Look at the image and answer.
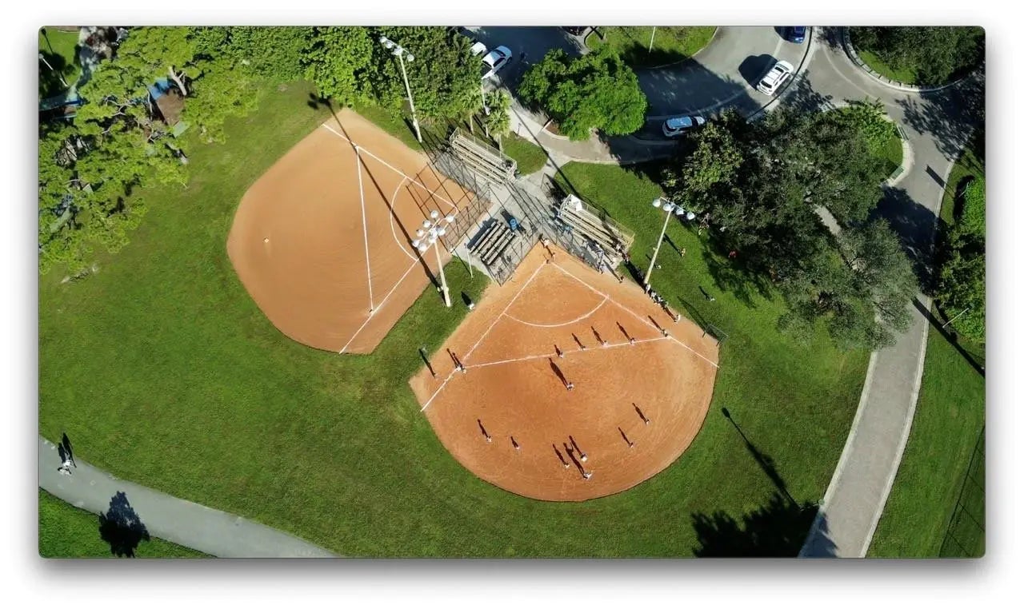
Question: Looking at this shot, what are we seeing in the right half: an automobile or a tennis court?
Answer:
automobile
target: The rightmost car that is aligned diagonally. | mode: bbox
[756,63,792,97]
